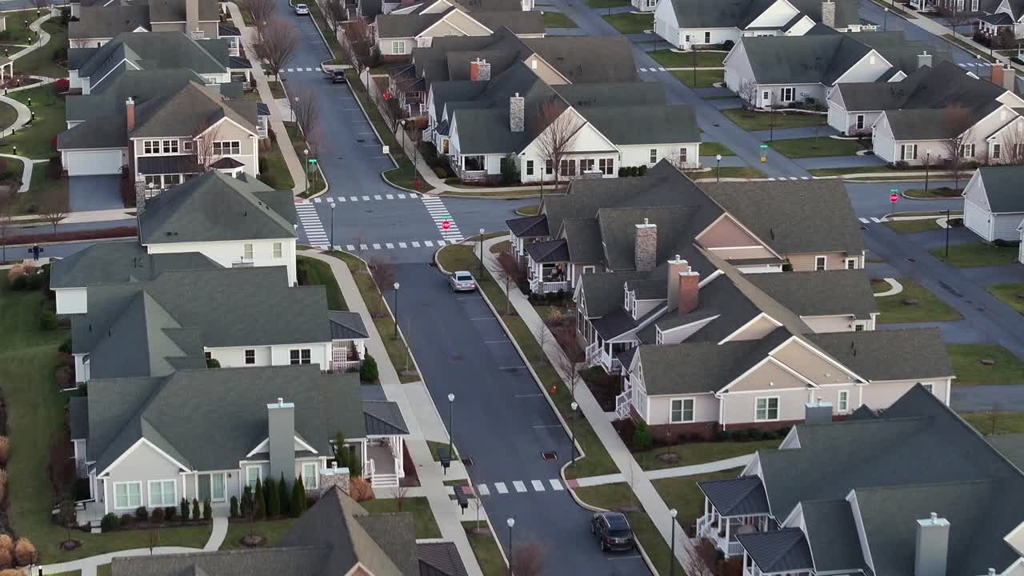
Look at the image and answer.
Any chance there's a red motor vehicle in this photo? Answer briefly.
No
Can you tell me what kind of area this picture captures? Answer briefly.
residential area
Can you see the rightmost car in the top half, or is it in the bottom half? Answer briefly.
bottom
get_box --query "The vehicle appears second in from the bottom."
[451,271,480,294]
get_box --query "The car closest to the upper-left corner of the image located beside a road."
[297,4,312,17]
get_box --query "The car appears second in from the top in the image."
[331,72,348,86]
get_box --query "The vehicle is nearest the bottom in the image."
[590,510,639,554]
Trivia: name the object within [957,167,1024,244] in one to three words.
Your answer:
house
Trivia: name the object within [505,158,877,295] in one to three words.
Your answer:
house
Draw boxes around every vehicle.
[297,4,312,17]
[331,72,348,86]
[590,510,639,554]
[451,271,480,294]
